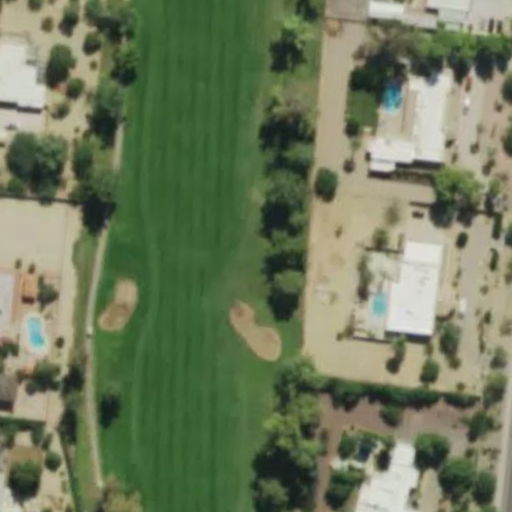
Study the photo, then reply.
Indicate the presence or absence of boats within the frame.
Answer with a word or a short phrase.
No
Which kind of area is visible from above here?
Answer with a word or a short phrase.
golf course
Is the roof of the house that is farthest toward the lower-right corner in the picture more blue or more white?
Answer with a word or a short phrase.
white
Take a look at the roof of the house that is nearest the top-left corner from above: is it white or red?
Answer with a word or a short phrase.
white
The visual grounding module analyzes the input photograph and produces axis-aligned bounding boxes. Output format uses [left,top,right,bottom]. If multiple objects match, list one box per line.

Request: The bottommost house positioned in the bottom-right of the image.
[356,443,420,512]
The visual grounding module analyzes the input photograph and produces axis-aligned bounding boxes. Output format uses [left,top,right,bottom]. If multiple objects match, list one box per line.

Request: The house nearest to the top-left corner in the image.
[0,35,46,106]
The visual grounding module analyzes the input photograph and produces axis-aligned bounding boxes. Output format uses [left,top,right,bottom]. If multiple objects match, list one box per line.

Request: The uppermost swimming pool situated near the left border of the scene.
[25,314,48,350]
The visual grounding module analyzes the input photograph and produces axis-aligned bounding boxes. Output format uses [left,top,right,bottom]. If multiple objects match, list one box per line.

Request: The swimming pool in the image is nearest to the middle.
[372,291,388,317]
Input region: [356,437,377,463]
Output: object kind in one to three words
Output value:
swimming pool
